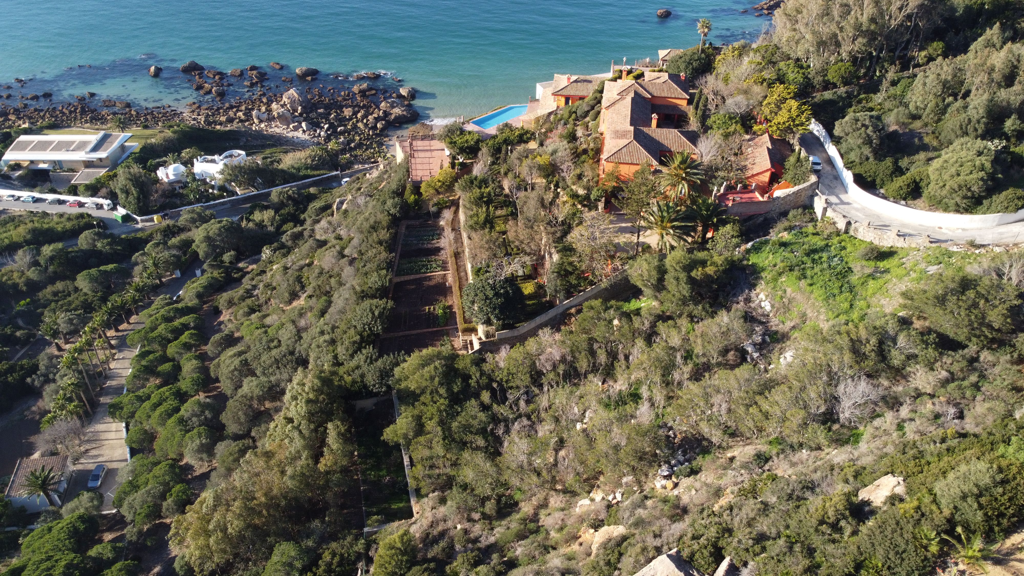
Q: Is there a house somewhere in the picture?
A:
Yes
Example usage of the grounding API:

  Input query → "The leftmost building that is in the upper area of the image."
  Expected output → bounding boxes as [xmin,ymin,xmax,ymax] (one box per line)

[2,127,139,191]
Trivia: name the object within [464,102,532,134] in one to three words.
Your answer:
swimming pool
